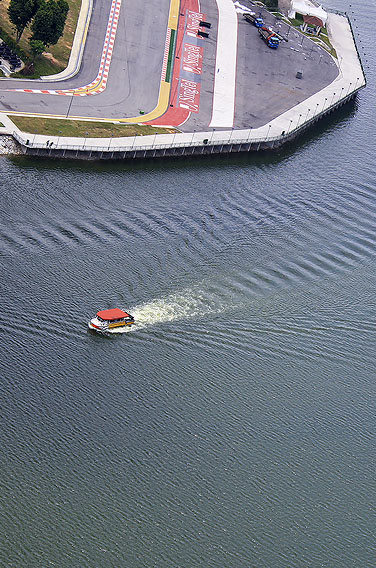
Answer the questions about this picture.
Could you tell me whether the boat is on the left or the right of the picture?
left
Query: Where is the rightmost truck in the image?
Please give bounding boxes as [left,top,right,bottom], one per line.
[260,27,286,49]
